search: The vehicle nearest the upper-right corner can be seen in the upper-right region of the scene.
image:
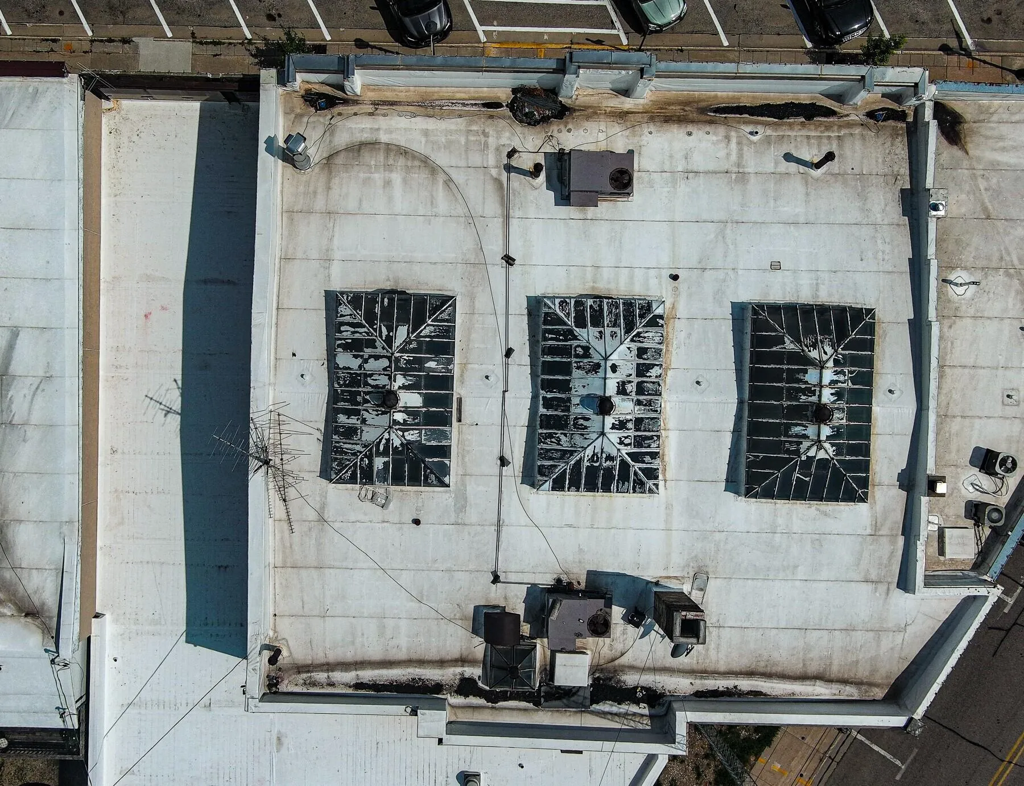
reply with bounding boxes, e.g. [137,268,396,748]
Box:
[795,0,869,50]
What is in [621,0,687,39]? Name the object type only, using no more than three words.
car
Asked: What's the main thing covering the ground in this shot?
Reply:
buildings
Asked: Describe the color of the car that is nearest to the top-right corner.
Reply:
black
